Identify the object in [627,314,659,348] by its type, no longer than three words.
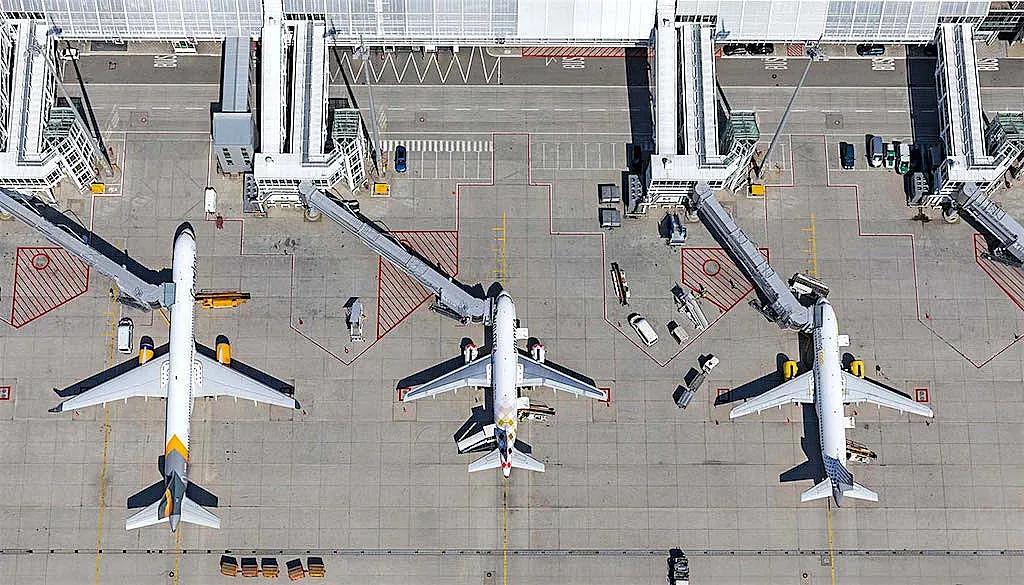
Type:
van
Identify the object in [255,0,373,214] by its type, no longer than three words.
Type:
building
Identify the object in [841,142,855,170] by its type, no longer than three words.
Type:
vehicle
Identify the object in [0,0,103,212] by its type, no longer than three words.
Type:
building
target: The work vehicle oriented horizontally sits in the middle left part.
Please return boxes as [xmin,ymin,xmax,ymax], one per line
[196,290,251,310]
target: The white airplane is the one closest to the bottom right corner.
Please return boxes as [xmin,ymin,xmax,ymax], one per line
[730,298,934,508]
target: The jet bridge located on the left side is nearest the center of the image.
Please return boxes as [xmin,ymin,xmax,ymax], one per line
[297,180,498,329]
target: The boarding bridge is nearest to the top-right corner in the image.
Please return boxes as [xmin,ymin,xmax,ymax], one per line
[941,183,1024,254]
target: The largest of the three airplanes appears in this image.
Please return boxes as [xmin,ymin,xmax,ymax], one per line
[49,223,300,533]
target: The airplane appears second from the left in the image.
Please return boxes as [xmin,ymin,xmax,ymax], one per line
[403,292,607,478]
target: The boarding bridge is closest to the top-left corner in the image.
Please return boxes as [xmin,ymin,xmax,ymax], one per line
[0,192,179,315]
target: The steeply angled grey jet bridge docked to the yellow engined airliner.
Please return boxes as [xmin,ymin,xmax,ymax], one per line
[685,181,832,337]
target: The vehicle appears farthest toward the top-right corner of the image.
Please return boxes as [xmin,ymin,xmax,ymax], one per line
[857,44,885,57]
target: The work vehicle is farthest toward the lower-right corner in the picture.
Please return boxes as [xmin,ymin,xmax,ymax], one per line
[844,444,878,466]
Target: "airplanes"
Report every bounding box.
[403,292,607,478]
[49,223,300,533]
[730,298,934,508]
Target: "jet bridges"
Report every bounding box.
[685,181,832,337]
[941,183,1024,254]
[297,180,498,329]
[0,192,179,315]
